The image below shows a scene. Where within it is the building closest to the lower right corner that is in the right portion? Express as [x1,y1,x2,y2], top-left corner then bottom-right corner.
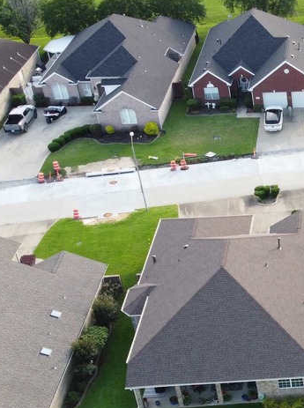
[113,215,304,408]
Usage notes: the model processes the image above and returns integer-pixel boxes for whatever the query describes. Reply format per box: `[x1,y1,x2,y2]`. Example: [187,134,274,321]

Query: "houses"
[0,235,110,408]
[0,22,46,118]
[186,12,304,114]
[113,215,304,408]
[35,11,196,135]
